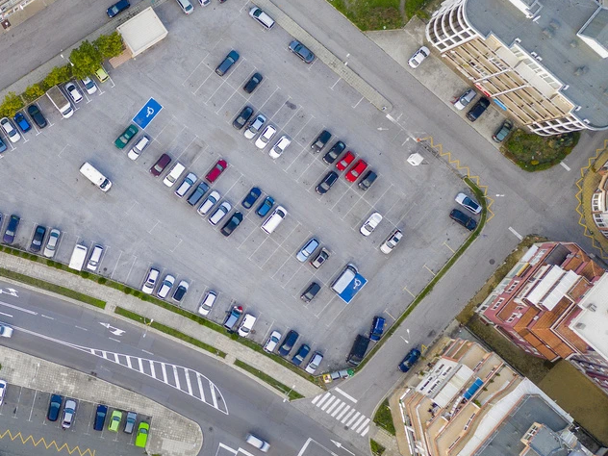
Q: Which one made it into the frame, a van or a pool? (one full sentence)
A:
There is a van in the scene.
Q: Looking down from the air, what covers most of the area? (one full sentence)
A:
The scene is dominated by paved ground.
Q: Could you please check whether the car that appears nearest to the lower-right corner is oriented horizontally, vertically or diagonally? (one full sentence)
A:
In this picture, the car that appears nearest to the lower-right corner lies diagonally.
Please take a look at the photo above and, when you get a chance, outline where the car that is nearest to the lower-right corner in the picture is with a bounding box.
[396,347,421,374]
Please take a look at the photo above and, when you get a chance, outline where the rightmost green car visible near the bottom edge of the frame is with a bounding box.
[134,421,149,447]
